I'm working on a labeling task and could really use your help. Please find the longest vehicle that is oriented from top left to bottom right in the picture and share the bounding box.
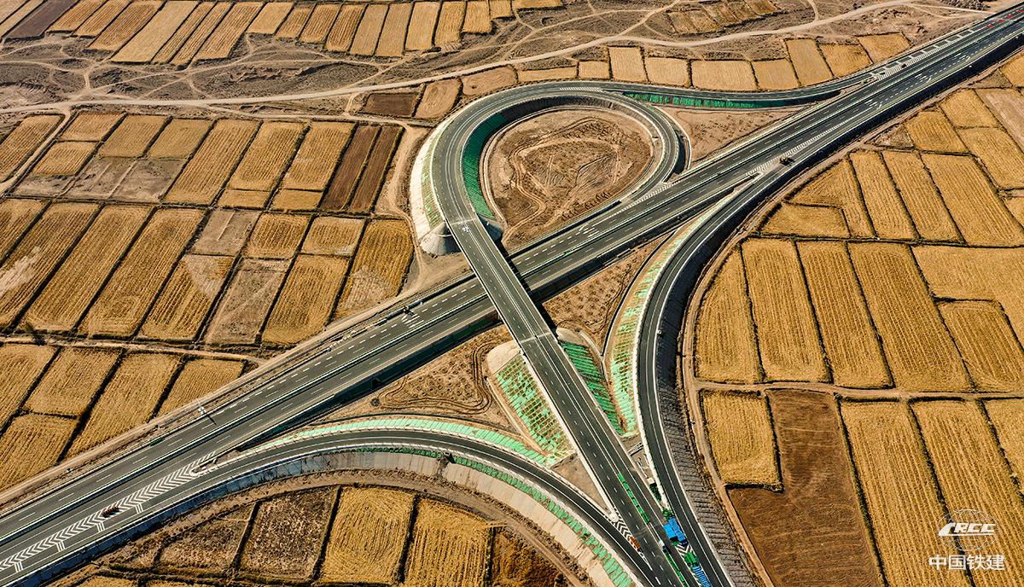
[657,536,670,552]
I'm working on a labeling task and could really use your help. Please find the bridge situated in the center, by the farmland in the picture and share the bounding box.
[420,216,582,371]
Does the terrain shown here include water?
No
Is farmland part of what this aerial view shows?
Yes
